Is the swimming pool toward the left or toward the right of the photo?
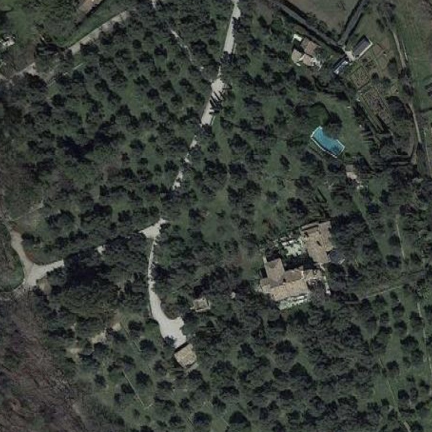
right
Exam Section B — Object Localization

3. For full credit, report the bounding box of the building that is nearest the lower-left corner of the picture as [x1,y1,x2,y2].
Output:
[175,343,197,369]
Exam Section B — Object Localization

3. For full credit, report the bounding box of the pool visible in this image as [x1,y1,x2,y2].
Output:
[310,126,345,158]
